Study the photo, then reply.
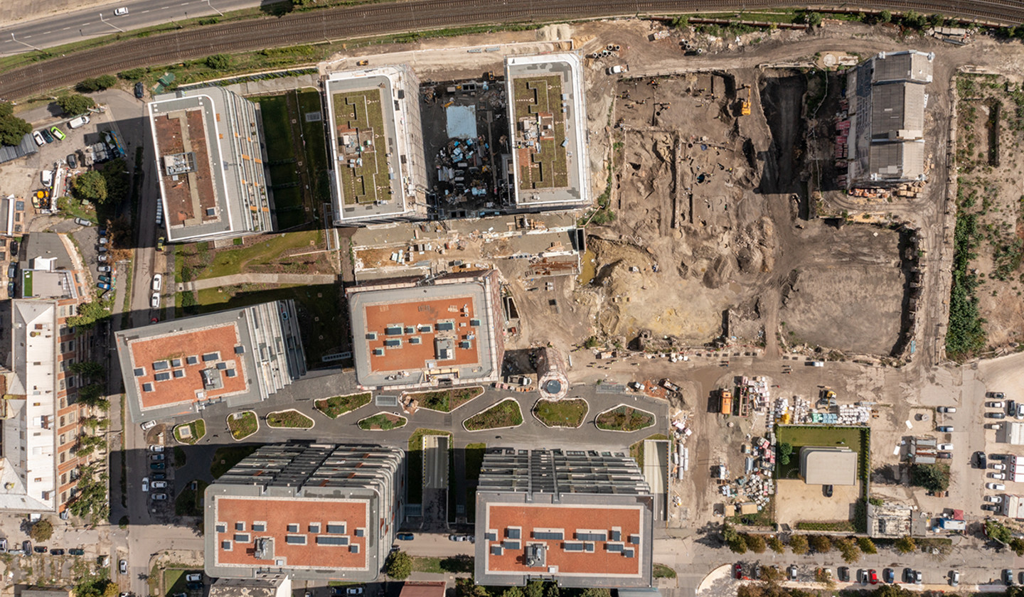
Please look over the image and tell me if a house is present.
Yes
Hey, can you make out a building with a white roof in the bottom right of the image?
Yes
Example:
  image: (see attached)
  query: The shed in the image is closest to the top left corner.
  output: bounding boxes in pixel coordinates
[0,135,44,165]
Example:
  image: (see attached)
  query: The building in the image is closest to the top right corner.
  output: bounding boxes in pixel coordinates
[837,57,943,182]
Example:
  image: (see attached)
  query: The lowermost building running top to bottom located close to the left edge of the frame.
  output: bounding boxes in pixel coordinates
[0,302,88,519]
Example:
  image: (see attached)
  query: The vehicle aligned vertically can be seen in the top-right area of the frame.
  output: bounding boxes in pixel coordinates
[742,72,754,115]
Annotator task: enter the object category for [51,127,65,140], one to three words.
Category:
vehicle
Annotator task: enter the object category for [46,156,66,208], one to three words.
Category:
vehicle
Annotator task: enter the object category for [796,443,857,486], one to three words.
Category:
house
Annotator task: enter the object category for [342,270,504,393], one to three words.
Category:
building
